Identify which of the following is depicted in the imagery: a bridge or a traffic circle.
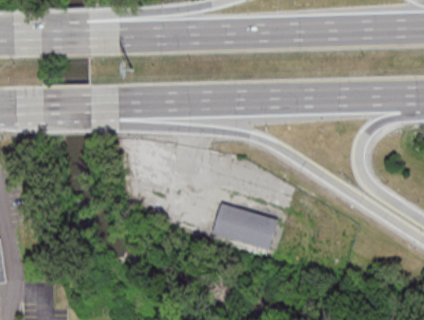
bridge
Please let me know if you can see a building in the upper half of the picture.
No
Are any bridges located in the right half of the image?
No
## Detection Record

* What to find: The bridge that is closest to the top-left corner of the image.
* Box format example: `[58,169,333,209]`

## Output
[42,6,92,58]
